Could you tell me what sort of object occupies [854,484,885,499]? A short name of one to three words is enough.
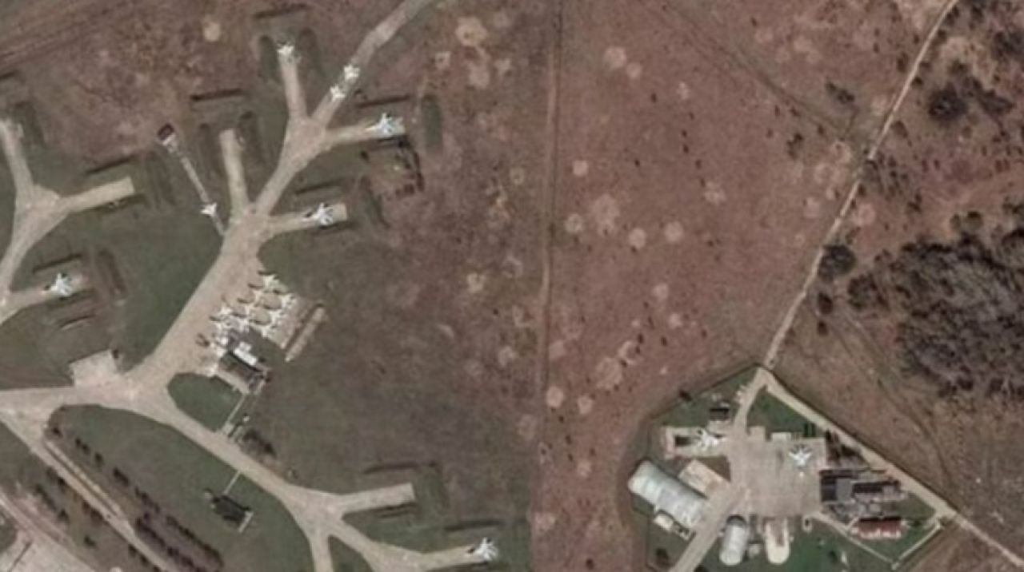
building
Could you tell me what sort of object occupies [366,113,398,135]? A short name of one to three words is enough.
airplane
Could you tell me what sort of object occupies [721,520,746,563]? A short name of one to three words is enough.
hangar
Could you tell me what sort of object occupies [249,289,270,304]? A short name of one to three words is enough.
airplane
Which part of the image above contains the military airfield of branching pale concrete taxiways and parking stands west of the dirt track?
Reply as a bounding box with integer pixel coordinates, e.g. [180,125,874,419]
[0,0,492,572]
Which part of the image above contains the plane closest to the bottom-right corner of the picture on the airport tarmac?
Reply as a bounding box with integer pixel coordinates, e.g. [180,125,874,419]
[789,441,811,474]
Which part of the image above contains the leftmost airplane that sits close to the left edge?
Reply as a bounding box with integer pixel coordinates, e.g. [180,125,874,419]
[42,274,75,295]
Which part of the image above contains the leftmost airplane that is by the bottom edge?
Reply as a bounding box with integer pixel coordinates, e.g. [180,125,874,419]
[467,539,499,560]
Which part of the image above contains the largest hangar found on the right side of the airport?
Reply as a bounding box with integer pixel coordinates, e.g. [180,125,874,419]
[628,460,709,526]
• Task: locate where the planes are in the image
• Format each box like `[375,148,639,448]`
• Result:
[203,343,224,359]
[467,539,499,560]
[260,274,281,291]
[305,203,338,224]
[278,293,299,309]
[277,39,293,64]
[249,289,270,304]
[789,441,811,474]
[215,304,237,320]
[692,428,723,449]
[227,317,248,333]
[216,332,238,348]
[330,81,347,102]
[366,113,398,135]
[344,61,361,84]
[200,198,216,222]
[42,274,75,295]
[254,324,277,340]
